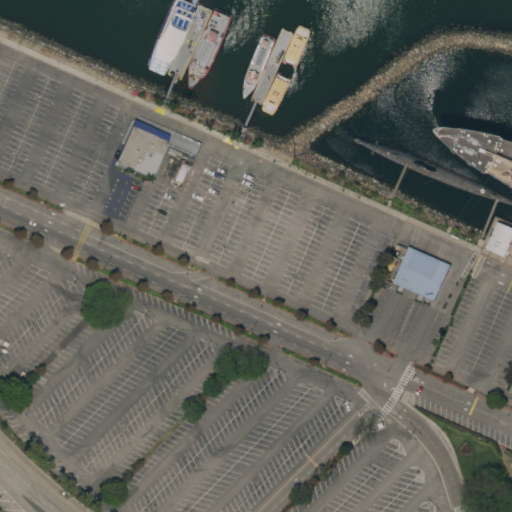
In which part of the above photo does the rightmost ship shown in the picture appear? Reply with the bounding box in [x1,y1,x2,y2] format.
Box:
[434,127,512,190]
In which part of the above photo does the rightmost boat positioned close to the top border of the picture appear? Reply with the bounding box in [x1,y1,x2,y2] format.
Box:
[284,24,312,66]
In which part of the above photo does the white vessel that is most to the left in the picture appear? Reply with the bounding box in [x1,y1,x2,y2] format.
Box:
[148,0,201,76]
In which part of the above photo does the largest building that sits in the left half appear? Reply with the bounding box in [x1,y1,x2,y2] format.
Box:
[118,116,172,180]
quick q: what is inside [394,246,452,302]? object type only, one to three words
building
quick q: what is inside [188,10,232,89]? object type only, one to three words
boat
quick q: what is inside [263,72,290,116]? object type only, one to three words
boat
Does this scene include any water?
Yes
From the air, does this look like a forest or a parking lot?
parking lot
